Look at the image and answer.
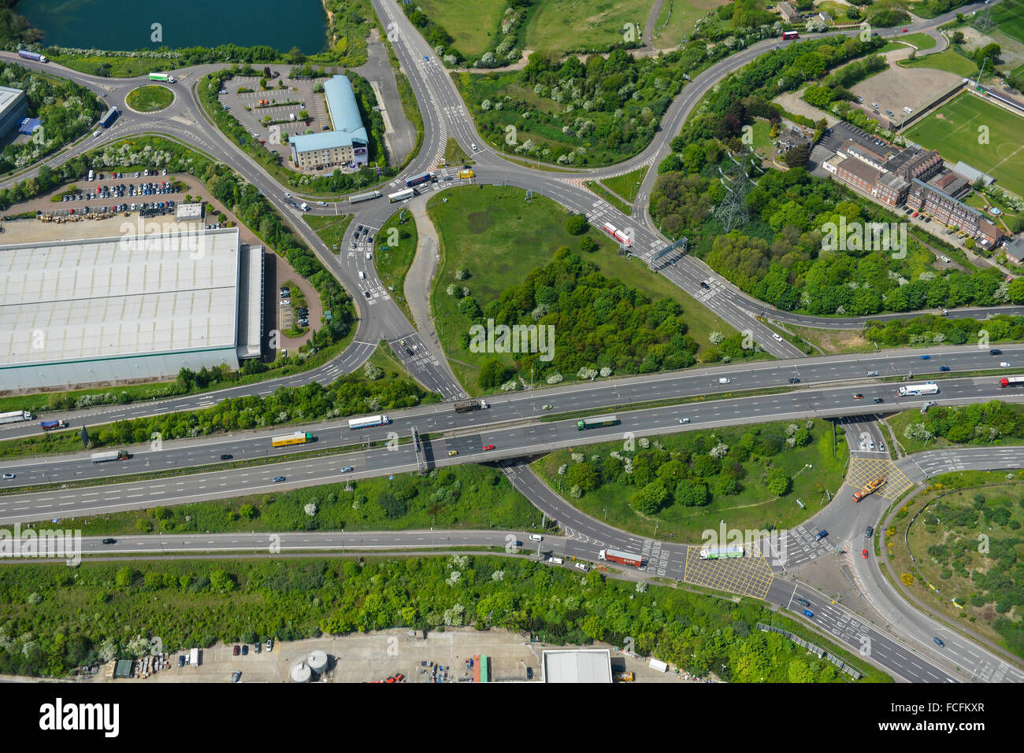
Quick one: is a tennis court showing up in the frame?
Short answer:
No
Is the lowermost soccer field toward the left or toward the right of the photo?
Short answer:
right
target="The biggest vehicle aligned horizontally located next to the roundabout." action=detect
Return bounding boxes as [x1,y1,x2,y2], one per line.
[148,71,177,83]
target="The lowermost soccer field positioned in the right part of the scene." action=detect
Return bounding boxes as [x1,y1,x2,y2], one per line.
[901,90,1024,202]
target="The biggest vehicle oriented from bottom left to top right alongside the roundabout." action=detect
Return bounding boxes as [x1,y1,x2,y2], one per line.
[99,108,119,126]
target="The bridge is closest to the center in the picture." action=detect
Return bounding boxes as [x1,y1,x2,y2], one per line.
[394,382,583,474]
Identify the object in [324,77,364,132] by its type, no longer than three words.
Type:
building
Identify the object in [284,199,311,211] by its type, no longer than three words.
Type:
vehicle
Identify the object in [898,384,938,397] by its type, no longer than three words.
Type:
vehicle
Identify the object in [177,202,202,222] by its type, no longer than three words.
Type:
shed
